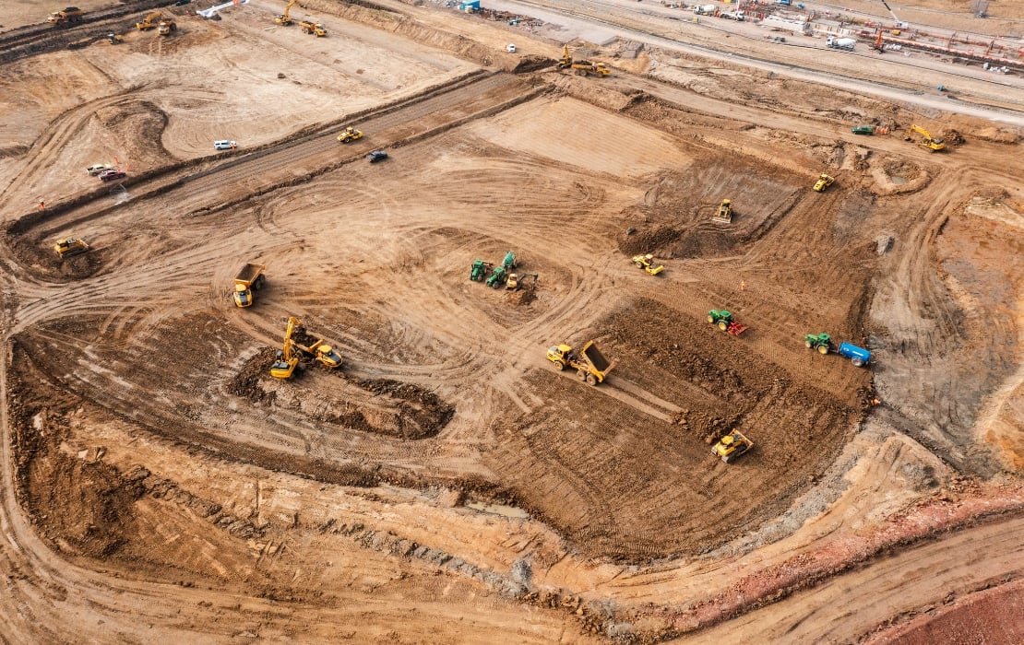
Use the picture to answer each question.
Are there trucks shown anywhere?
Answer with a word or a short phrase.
Yes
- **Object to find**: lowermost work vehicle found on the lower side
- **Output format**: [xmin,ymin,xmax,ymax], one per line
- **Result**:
[710,429,758,466]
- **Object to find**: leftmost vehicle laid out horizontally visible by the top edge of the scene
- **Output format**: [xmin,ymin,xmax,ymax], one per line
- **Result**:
[45,6,85,25]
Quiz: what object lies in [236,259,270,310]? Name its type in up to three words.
truck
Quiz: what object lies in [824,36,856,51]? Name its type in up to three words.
vehicle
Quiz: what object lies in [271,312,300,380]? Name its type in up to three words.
work vehicle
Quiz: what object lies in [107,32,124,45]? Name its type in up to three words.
vehicle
